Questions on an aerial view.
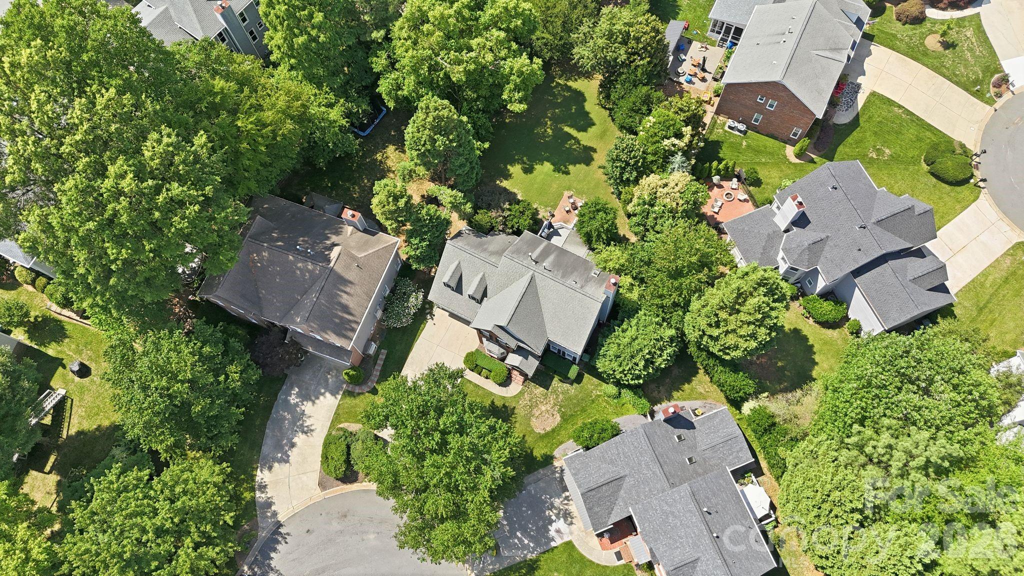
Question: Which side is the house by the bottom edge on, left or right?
right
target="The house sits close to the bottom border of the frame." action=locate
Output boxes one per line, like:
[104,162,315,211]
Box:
[562,403,779,576]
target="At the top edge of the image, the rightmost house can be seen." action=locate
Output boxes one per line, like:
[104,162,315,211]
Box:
[705,0,871,148]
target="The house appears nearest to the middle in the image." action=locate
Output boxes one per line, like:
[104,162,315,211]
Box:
[427,217,622,391]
